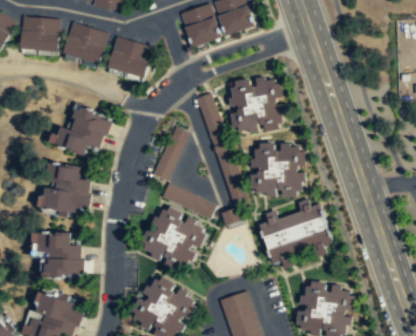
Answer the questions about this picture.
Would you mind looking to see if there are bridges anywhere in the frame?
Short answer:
No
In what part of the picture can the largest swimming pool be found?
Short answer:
bottom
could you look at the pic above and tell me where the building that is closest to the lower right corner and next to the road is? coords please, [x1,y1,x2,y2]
[296,281,354,336]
